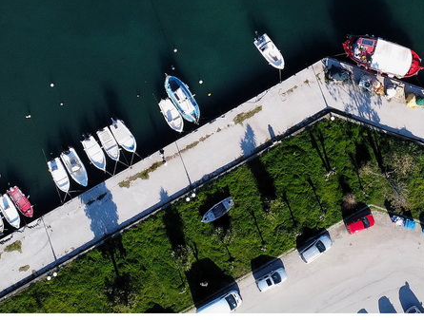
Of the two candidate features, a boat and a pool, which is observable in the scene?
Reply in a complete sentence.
It is a boat that can be seen here.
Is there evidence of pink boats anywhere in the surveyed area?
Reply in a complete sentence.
Yes, the picture does show a pink boat.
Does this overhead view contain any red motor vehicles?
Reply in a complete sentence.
Yes, the photo shows a red motor vehicle.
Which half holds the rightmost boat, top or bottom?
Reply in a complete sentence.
The top half of the photo is where the rightmost boat is.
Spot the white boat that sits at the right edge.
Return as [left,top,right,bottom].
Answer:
[341,37,424,77]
